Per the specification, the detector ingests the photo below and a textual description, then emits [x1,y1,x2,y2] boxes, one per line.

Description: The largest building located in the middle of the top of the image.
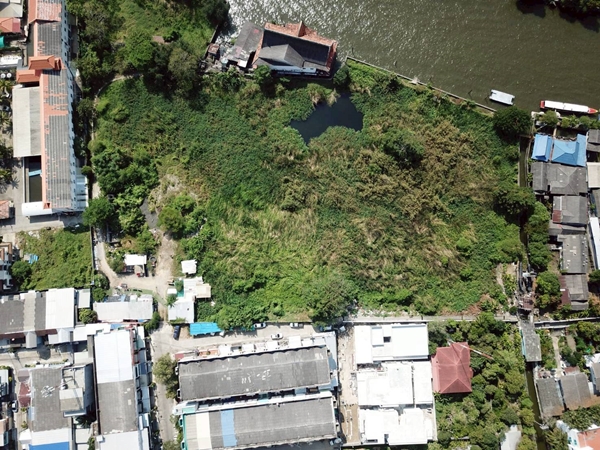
[251,22,338,77]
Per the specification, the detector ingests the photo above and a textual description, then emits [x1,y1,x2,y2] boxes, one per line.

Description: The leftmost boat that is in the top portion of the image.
[488,89,515,105]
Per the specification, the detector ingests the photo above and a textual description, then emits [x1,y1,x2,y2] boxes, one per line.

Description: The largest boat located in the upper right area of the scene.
[538,100,598,115]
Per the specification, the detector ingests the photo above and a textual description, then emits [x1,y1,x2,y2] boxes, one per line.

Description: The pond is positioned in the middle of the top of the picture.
[289,91,364,139]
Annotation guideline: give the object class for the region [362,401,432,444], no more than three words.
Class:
building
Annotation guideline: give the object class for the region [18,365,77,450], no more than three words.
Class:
house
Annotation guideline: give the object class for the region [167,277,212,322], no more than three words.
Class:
house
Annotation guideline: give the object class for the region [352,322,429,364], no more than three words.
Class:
building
